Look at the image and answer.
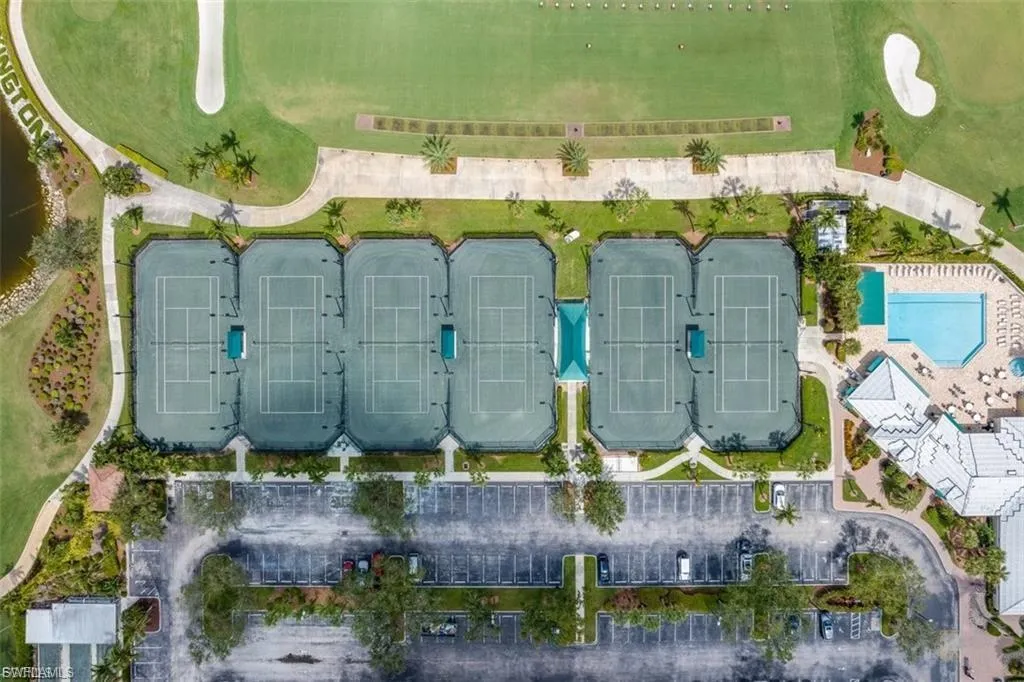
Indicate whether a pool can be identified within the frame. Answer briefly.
Yes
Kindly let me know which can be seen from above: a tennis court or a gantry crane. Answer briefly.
tennis court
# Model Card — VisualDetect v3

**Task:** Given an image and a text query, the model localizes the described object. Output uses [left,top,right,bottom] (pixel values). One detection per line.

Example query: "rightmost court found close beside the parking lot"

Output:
[693,238,800,449]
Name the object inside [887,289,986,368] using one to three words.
swimming pool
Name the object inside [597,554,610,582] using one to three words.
vehicle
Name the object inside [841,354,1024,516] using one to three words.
building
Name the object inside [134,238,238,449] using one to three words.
tennis court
